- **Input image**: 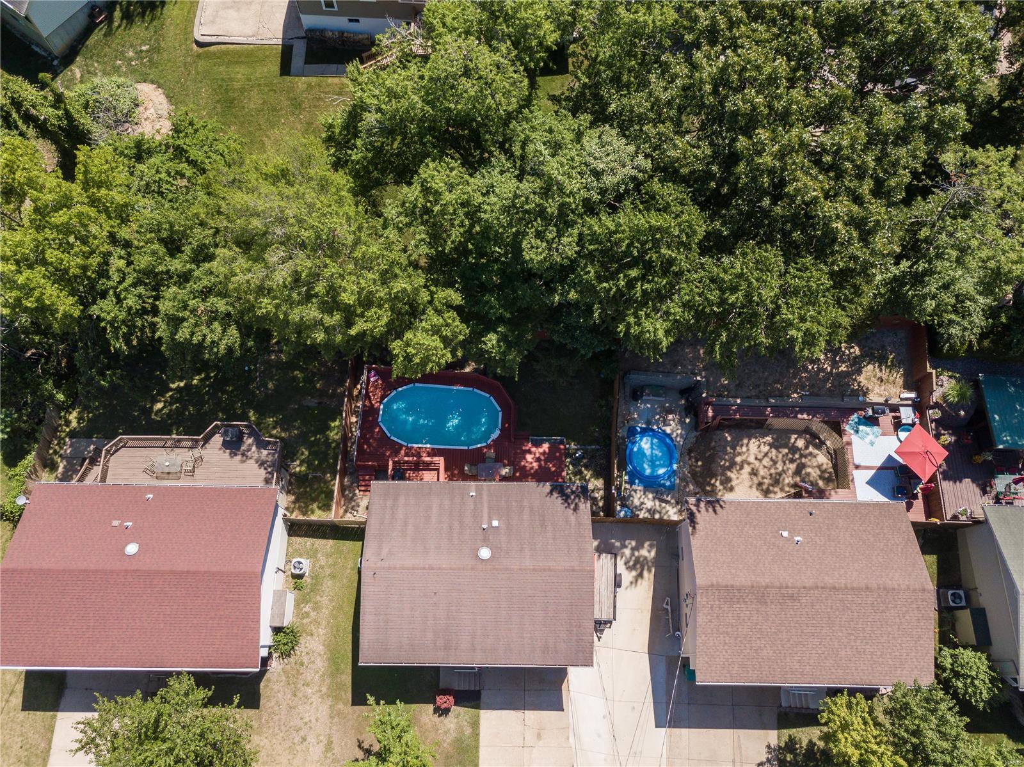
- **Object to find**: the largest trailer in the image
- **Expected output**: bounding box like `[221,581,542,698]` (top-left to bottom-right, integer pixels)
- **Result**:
[592,553,621,646]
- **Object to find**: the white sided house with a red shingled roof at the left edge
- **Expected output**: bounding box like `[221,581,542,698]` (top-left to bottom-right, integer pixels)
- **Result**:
[0,483,297,673]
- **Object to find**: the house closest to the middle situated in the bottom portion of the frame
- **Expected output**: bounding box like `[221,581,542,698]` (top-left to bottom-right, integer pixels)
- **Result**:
[358,481,595,669]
